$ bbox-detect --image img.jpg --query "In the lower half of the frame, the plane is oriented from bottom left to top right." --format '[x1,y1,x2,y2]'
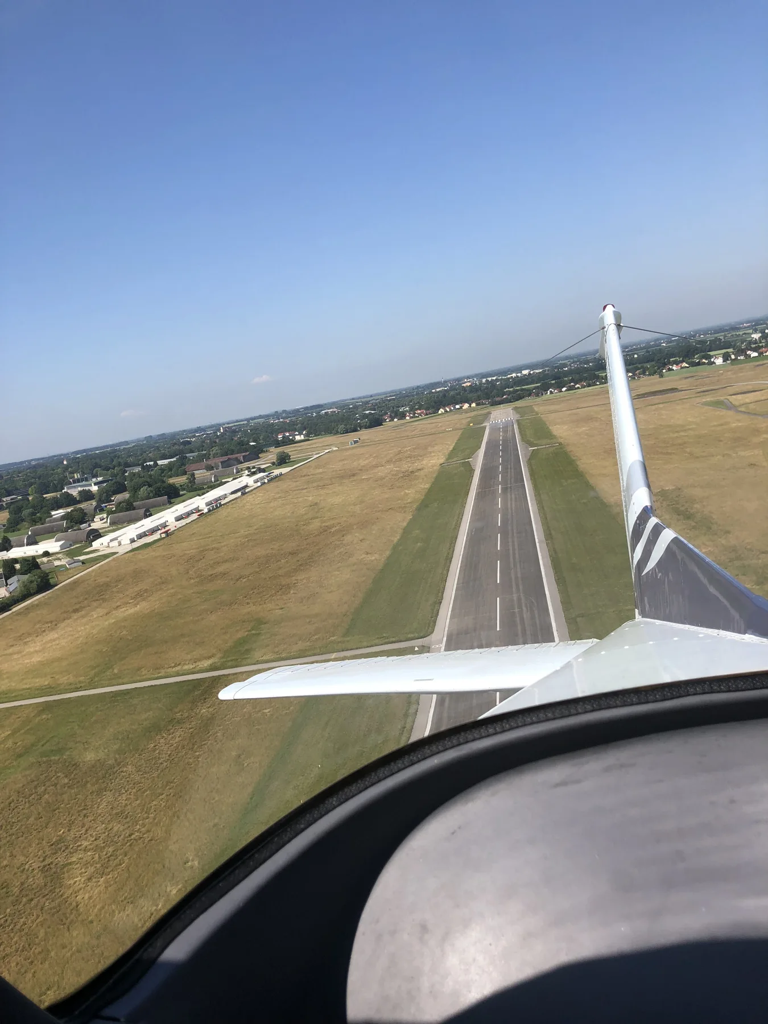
[0,310,768,1024]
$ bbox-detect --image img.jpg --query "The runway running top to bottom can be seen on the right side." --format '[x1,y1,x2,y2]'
[407,407,570,742]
